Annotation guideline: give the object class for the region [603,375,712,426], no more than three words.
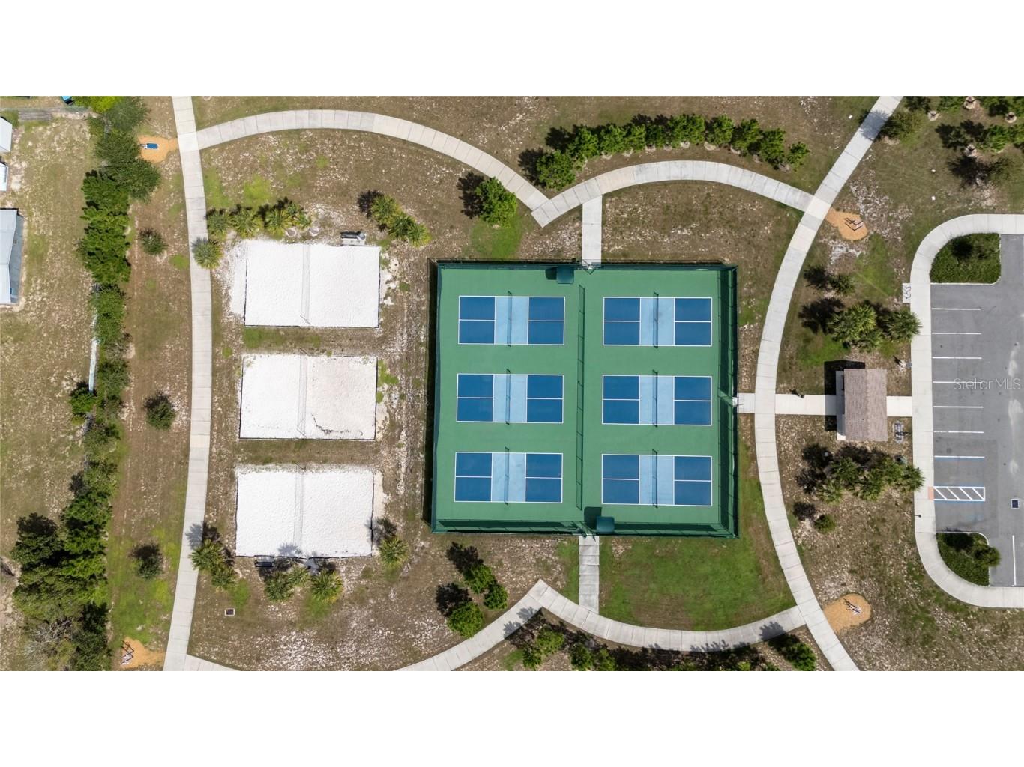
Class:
sports court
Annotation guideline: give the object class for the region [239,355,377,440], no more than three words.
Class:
sports court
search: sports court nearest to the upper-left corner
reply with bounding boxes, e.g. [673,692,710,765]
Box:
[244,242,380,328]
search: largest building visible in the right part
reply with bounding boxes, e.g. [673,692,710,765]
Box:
[836,369,888,441]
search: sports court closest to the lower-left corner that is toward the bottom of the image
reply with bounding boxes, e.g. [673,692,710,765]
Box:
[234,467,374,557]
